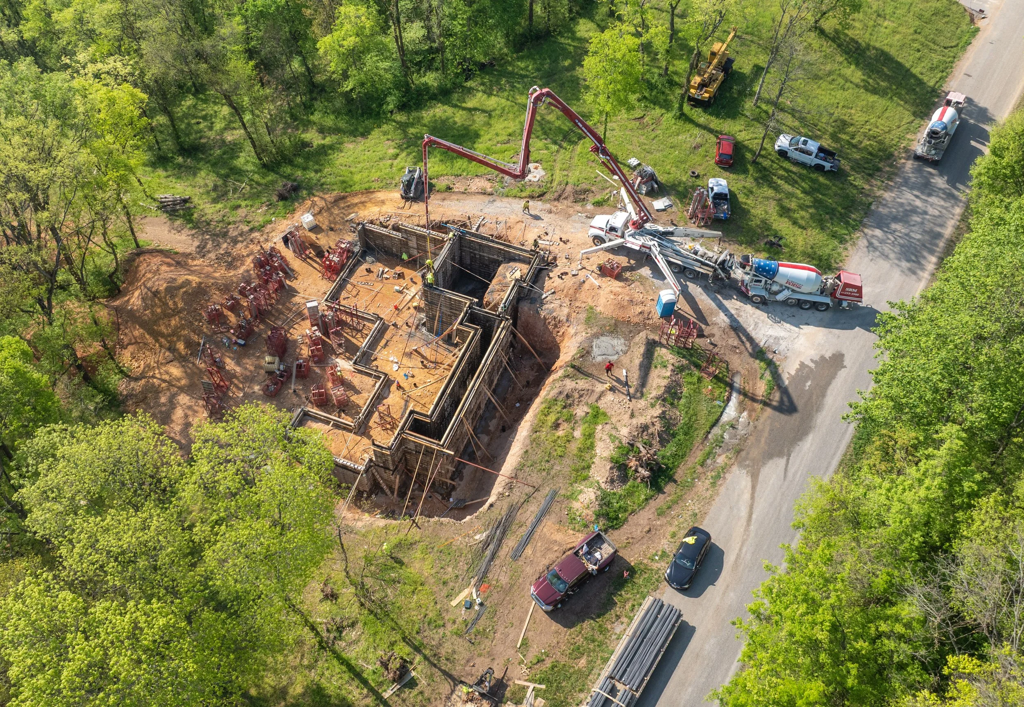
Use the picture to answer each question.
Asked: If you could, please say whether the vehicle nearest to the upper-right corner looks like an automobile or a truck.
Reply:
truck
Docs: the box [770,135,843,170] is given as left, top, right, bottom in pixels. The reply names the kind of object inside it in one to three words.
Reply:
truck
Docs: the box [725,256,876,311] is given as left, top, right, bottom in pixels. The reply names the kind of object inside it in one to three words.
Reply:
truck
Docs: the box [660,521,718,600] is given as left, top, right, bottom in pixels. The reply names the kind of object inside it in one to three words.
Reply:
car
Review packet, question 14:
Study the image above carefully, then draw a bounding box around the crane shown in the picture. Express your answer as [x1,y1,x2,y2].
[692,24,735,99]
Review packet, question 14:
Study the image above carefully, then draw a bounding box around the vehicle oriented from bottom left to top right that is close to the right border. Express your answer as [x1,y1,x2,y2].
[918,87,977,158]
